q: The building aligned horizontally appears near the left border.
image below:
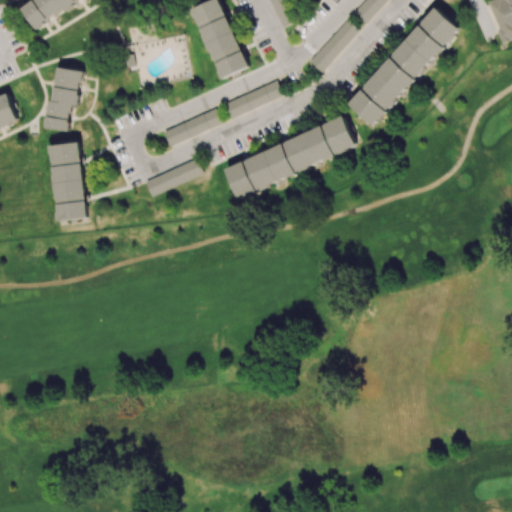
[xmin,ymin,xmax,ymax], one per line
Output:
[20,0,94,33]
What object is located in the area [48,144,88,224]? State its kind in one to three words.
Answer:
building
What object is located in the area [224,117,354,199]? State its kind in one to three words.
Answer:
building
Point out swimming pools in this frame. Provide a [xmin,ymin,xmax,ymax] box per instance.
[130,28,193,86]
